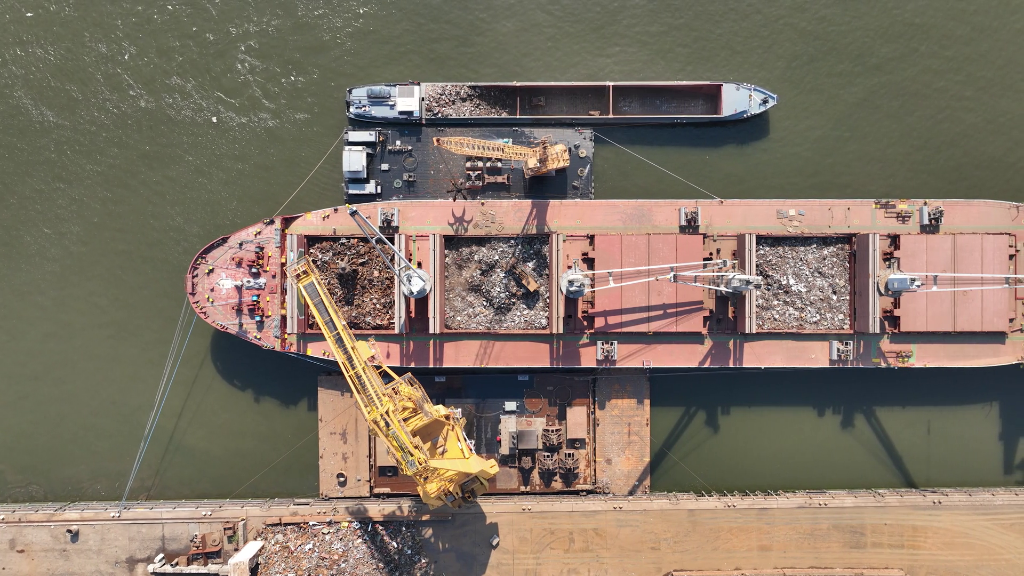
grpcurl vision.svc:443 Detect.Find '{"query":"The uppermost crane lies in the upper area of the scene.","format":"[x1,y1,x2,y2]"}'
[433,134,571,178]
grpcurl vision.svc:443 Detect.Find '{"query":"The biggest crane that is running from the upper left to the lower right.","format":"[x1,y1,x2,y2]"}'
[282,255,500,510]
